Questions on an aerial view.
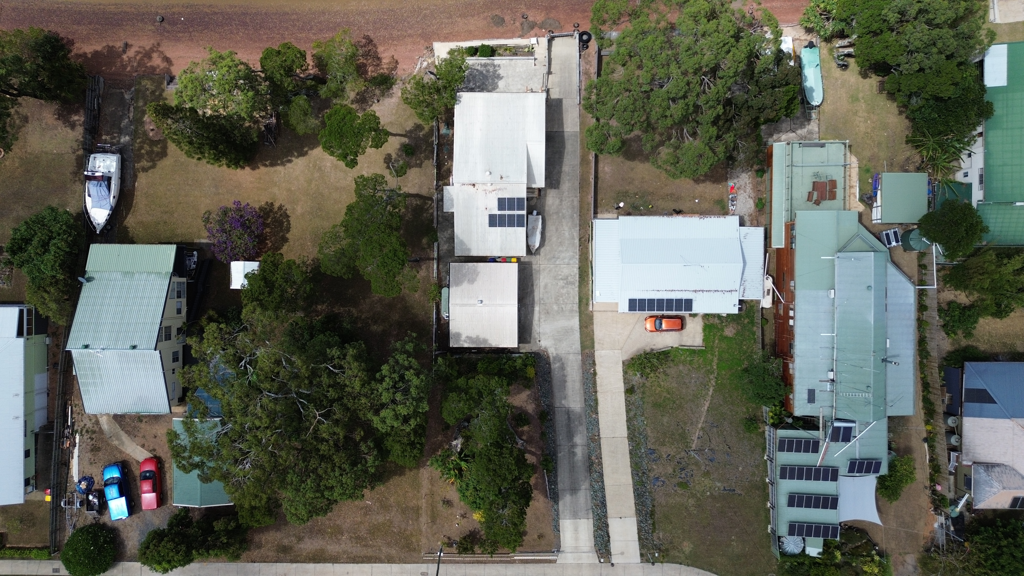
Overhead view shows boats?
Yes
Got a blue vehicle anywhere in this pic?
Yes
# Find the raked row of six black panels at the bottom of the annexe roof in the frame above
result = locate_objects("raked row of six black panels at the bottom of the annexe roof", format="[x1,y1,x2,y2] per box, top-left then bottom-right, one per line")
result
[786,520,840,538]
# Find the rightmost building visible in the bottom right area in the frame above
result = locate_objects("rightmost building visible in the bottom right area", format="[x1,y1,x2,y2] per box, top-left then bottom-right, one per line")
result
[957,360,1024,510]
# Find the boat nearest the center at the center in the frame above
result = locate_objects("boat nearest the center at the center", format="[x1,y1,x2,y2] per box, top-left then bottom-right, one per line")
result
[526,207,543,262]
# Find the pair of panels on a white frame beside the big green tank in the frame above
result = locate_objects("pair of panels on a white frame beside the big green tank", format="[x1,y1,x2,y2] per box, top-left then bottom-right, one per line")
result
[883,228,901,247]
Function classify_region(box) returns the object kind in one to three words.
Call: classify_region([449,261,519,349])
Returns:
building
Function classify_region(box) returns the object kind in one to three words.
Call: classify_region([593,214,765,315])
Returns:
house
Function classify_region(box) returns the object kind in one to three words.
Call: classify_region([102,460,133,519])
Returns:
truck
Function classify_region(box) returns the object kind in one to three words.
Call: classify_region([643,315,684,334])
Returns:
car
